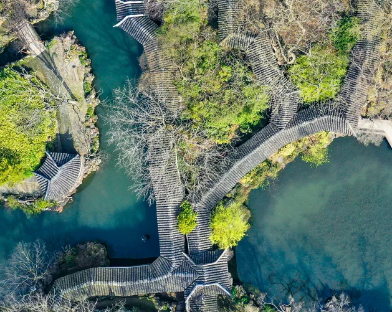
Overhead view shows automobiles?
No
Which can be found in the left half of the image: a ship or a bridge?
bridge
